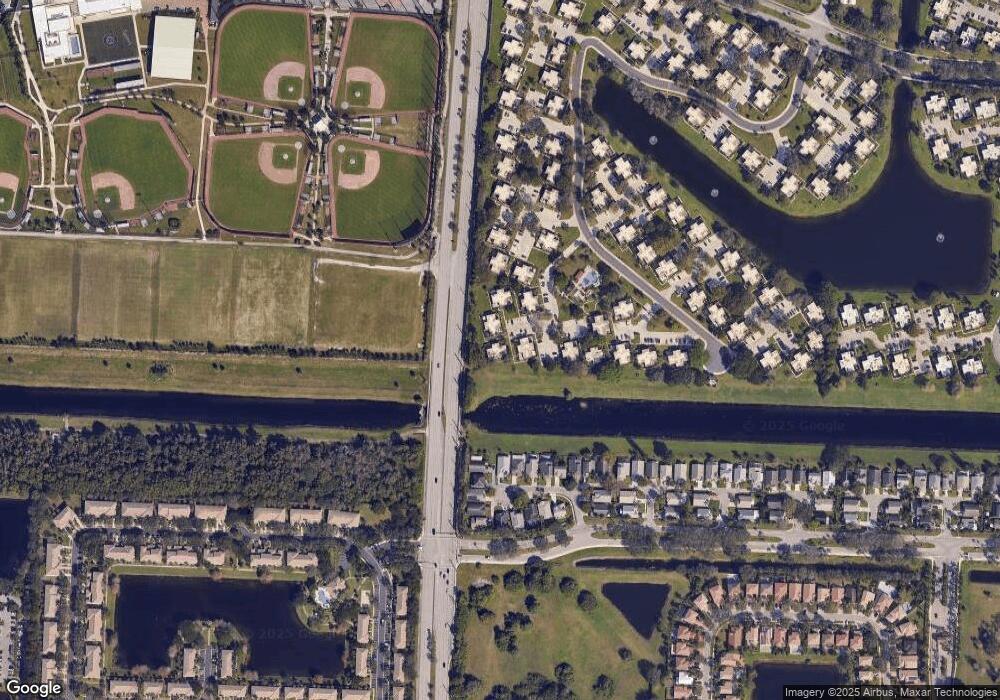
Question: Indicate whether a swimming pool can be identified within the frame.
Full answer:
Yes, a swimming pool is visible in the scene.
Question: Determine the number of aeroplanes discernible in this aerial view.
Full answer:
The picture shows no aeroplanes.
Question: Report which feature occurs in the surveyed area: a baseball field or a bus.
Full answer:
The image shows a baseball field.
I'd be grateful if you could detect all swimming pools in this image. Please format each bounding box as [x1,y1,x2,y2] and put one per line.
[314,587,331,608]
[579,266,600,288]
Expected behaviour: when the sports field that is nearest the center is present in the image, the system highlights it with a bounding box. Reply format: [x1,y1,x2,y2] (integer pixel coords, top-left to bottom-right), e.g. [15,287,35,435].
[314,263,421,353]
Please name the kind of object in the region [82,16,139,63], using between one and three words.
sports court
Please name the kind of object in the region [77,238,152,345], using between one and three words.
sports field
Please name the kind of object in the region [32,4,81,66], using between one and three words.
building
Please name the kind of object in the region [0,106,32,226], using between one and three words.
baseball field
